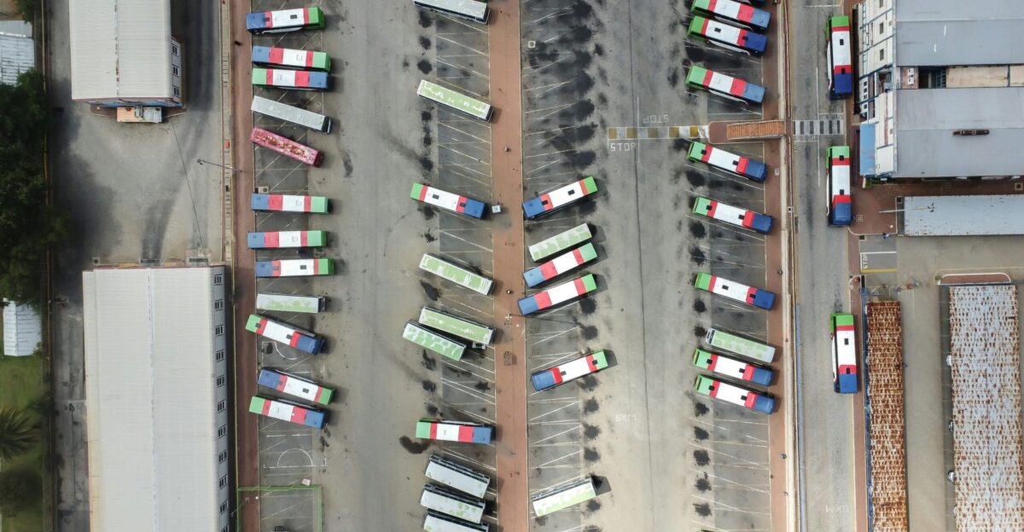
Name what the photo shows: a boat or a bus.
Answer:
bus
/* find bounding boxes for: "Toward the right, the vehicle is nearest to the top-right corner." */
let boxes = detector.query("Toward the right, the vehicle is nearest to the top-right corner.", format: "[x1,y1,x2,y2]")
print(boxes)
[823,16,851,101]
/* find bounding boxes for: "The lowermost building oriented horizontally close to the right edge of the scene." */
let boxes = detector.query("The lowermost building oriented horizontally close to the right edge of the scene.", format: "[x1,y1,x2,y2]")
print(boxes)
[896,195,1024,236]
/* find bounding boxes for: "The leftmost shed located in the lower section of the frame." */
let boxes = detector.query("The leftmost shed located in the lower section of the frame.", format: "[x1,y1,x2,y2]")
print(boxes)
[3,298,50,357]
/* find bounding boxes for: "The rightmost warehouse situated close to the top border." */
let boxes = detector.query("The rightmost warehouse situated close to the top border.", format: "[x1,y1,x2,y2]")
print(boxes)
[859,0,1024,186]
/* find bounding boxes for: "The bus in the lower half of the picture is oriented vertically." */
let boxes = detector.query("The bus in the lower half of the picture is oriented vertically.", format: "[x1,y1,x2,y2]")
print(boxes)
[827,313,856,396]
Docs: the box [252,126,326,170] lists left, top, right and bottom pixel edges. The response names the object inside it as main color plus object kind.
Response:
pink bus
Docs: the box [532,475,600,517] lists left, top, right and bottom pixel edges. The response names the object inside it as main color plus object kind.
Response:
white bus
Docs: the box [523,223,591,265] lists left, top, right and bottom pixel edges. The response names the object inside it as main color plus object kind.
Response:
white bus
